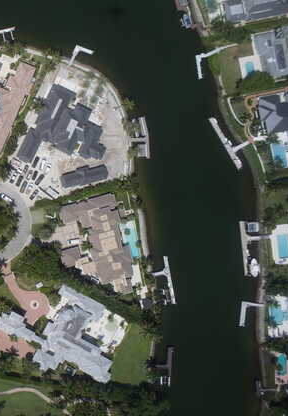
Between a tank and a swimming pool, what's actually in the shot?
swimming pool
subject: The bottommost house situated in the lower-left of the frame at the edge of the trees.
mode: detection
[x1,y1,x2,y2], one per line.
[0,284,114,383]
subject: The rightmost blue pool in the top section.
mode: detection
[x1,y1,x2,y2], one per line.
[271,143,288,168]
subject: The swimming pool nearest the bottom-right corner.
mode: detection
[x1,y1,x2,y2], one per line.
[274,352,287,376]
